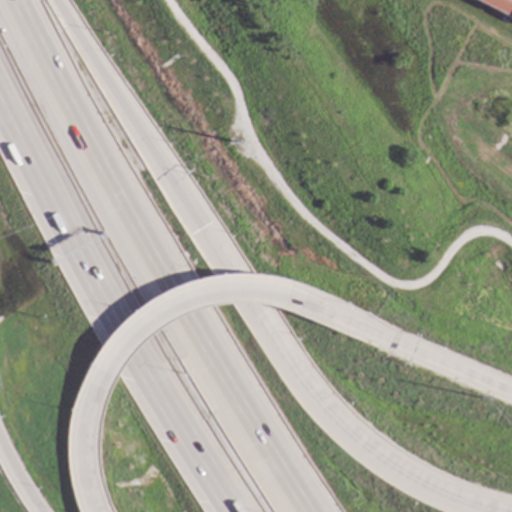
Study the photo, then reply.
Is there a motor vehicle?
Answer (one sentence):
Yes, this view includes a motor vehicle.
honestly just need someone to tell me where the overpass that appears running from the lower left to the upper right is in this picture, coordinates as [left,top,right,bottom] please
[68,273,344,512]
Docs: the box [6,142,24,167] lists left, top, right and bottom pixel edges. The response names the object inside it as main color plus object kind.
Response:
white vehicle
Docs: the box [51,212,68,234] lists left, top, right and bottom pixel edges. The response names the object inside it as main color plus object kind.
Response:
white vehicle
